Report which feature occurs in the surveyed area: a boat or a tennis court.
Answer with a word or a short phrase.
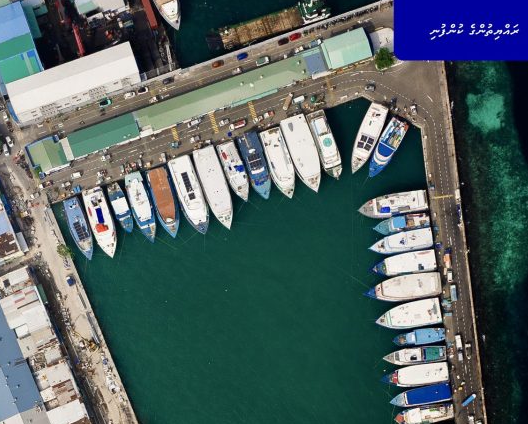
boat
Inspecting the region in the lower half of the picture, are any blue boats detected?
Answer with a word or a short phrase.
Yes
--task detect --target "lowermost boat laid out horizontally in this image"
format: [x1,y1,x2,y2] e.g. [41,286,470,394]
[394,403,456,424]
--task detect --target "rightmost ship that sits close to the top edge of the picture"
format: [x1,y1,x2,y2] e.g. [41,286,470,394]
[205,0,331,51]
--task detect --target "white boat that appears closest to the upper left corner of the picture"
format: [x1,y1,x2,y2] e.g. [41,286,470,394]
[153,0,186,32]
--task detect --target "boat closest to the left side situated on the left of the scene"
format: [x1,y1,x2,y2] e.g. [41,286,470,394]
[62,198,92,261]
